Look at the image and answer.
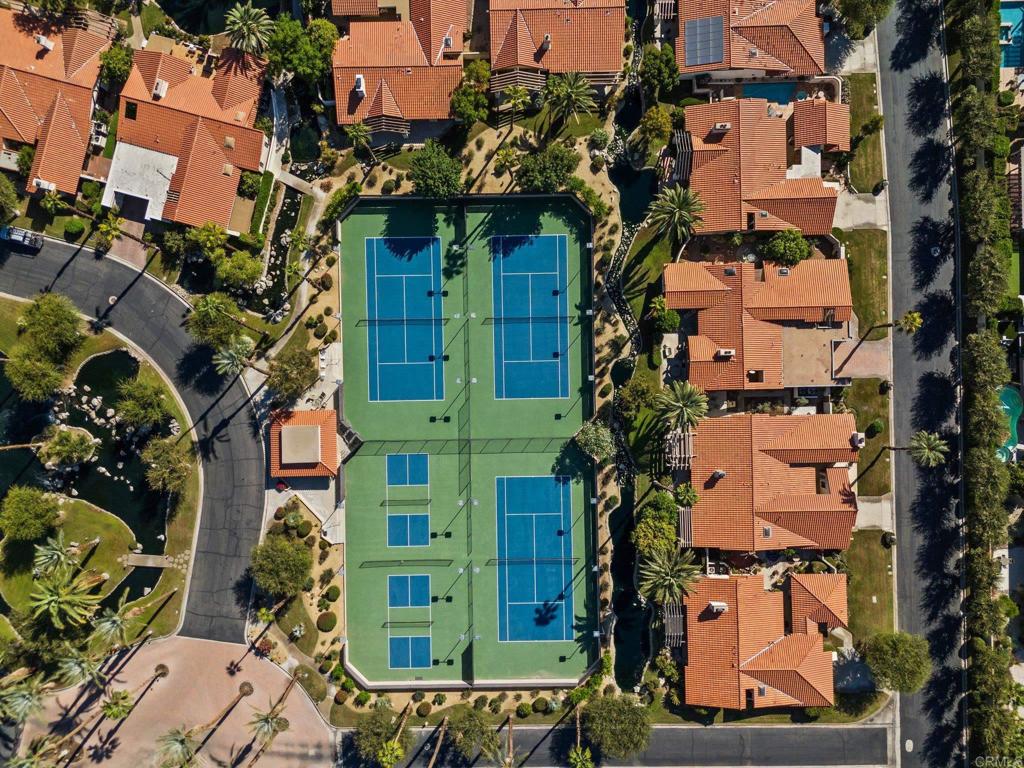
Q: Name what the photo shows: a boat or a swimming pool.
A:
swimming pool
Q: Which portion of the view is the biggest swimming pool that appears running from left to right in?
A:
top right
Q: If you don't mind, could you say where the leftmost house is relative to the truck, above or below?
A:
above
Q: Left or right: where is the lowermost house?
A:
right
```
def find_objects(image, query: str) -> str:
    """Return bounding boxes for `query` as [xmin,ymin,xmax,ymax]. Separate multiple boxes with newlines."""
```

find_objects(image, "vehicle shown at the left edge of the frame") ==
[0,225,42,249]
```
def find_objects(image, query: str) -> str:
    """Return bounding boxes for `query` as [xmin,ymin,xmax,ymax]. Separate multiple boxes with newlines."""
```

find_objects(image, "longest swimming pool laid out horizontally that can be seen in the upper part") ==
[740,80,800,108]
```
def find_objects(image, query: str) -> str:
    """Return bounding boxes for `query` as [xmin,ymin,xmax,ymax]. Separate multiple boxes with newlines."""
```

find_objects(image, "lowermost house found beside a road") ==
[684,573,849,709]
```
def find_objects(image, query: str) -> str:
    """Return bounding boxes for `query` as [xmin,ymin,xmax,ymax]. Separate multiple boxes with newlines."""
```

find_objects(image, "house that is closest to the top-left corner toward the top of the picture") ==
[0,8,113,194]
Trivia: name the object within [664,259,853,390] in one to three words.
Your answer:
house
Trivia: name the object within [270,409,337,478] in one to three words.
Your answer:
building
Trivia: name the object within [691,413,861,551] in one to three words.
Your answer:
house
